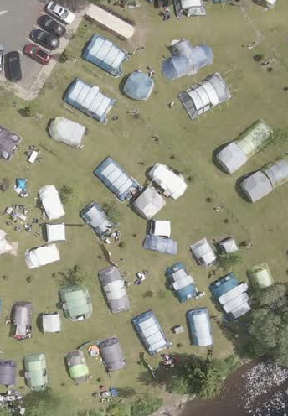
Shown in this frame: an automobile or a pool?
automobile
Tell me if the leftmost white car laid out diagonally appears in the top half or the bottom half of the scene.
top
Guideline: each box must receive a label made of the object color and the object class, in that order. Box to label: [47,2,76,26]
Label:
white car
